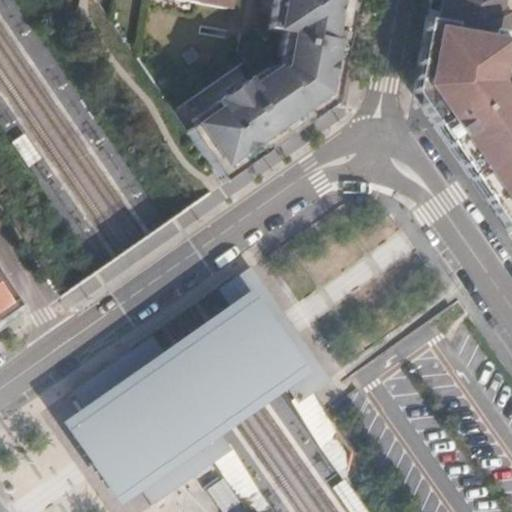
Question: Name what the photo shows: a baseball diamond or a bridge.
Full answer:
The one in the frame is a bridge.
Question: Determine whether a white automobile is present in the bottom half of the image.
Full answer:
Yes, a white automobile can be seen in the bottom half of the image.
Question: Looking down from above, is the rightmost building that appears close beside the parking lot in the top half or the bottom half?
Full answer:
The top half of the photo is where the rightmost building that appears close beside the parking lot is.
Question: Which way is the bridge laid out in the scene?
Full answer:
The bridge is oriented on a diagonal.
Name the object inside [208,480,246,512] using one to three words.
building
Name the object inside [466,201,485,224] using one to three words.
car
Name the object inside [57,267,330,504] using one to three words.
train station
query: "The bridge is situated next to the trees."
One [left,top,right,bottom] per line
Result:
[60,184,238,390]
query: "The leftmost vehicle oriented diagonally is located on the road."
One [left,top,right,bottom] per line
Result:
[96,296,116,312]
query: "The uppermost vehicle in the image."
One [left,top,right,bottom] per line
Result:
[419,136,436,156]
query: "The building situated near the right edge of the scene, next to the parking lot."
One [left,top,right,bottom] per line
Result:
[416,17,512,232]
